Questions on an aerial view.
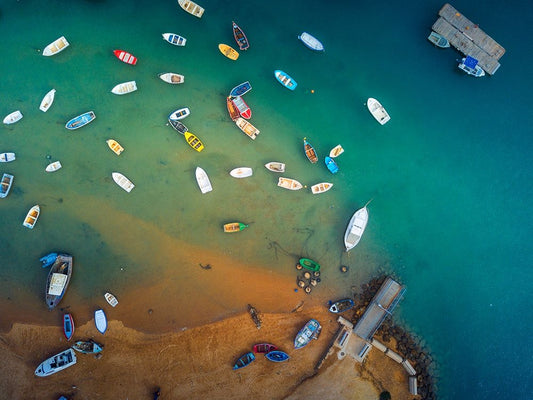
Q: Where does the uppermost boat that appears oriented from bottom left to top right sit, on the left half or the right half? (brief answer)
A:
left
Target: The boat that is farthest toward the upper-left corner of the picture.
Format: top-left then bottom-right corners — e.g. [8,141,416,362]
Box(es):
[42,35,70,56]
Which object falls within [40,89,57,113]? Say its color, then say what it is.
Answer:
white boat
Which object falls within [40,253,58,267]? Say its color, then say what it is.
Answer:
blue boat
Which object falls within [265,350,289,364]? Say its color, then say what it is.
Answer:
blue boat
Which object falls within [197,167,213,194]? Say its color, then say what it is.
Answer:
white boat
